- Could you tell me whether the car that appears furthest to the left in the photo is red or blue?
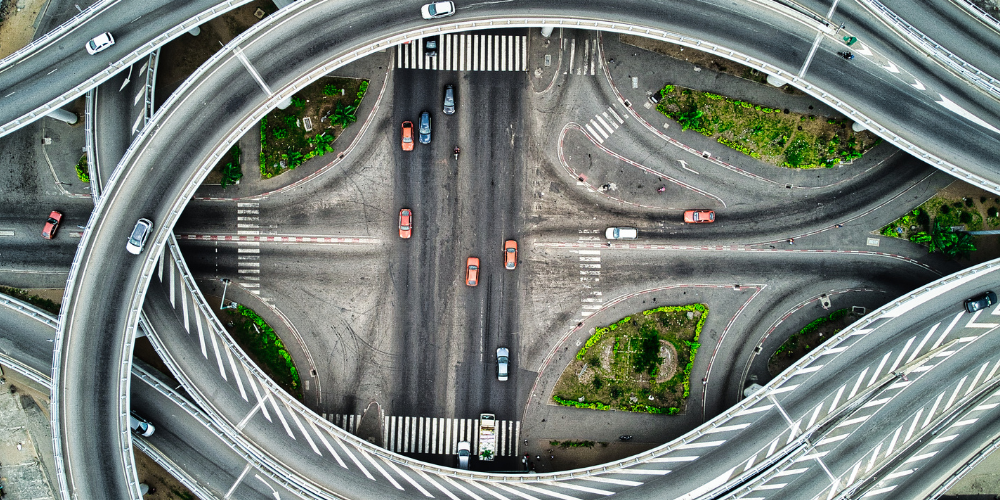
red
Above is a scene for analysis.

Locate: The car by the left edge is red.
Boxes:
[43,210,63,240]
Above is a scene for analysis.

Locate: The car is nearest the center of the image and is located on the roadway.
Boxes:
[504,240,519,270]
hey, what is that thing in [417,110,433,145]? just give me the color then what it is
blue car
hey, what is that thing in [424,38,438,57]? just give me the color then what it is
black car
